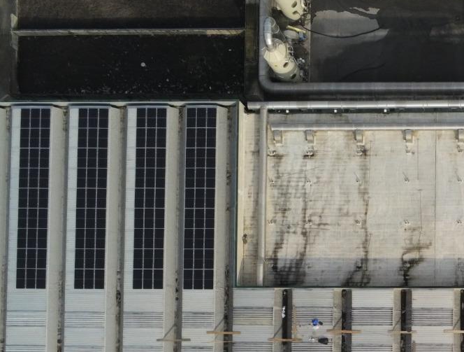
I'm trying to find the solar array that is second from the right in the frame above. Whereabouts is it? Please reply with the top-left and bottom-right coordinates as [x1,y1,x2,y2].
[132,107,164,289]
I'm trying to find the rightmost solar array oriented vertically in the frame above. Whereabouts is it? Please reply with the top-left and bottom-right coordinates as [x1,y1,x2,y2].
[182,107,214,289]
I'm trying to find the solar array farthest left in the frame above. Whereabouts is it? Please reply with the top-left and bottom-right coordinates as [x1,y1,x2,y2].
[15,108,47,289]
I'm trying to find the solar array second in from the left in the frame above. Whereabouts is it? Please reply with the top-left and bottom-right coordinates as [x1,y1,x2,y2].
[74,108,106,289]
